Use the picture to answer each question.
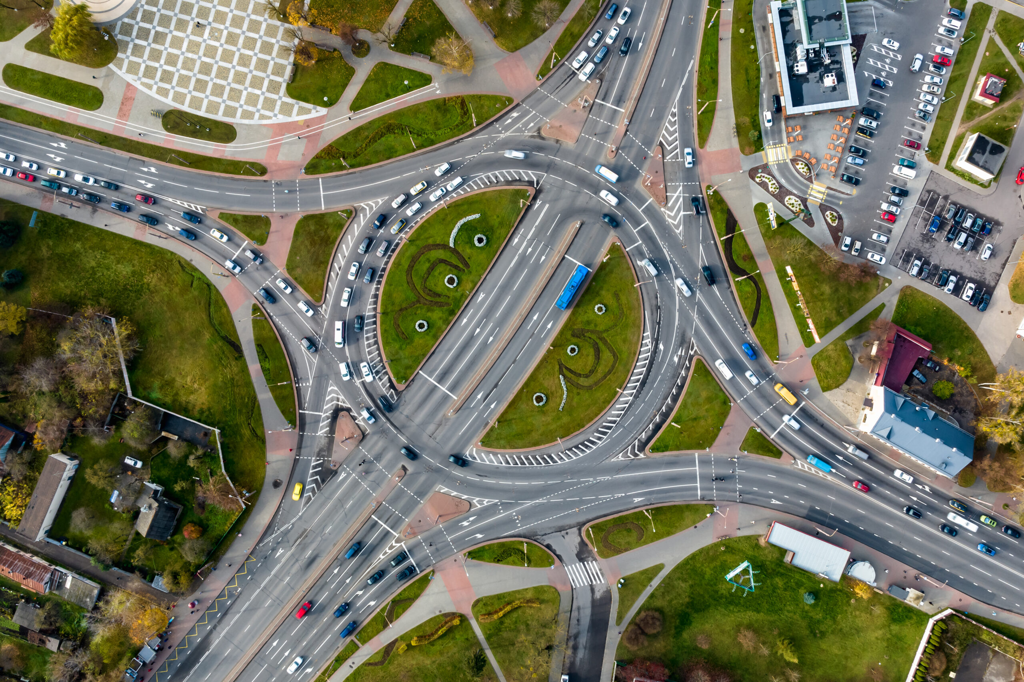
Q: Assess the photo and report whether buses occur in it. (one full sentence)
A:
Yes, the picture does show a bus.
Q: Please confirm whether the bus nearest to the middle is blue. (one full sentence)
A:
Yes, the bus nearest to the middle appears blue.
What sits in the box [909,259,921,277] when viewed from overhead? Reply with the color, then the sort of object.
white vehicle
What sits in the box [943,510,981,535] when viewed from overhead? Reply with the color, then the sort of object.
white bus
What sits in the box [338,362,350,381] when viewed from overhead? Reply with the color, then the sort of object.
white vehicle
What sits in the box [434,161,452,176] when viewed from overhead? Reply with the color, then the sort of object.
white car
